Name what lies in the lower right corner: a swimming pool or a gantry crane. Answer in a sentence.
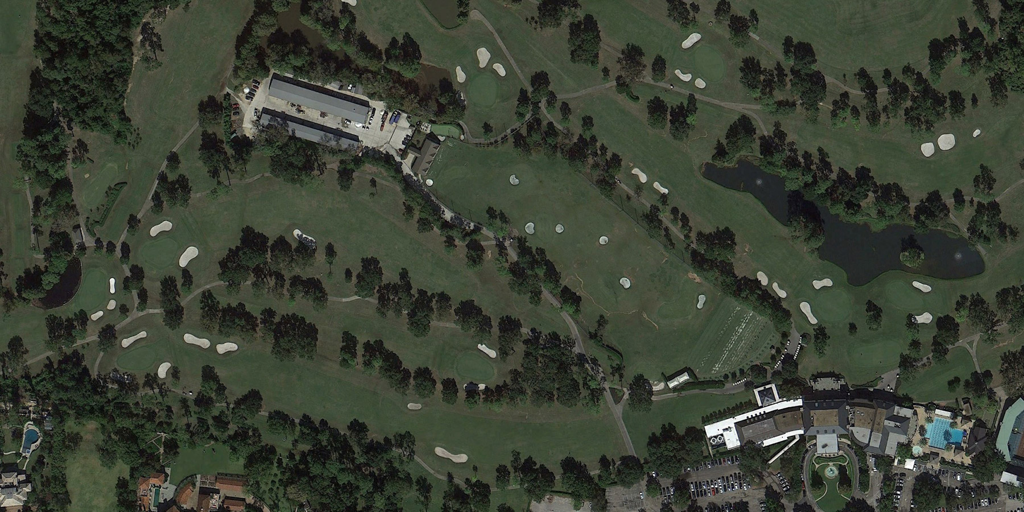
You can see a swimming pool in the lower right corner.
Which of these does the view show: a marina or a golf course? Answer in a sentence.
The area seen from above is a golf course.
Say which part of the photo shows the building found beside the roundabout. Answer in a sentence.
You can find the building found beside the roundabout in the bottom right area of the picture.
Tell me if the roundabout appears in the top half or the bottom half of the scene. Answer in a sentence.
The roundabout is in the bottom half of the image.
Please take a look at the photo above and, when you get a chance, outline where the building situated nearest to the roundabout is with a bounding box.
[705,377,918,463]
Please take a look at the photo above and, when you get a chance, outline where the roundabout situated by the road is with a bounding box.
[800,437,863,512]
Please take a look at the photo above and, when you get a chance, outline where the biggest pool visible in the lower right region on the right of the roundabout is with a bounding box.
[924,417,963,449]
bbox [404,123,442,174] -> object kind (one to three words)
building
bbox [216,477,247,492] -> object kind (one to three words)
shed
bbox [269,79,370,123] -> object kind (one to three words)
shed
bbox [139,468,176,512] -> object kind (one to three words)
house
